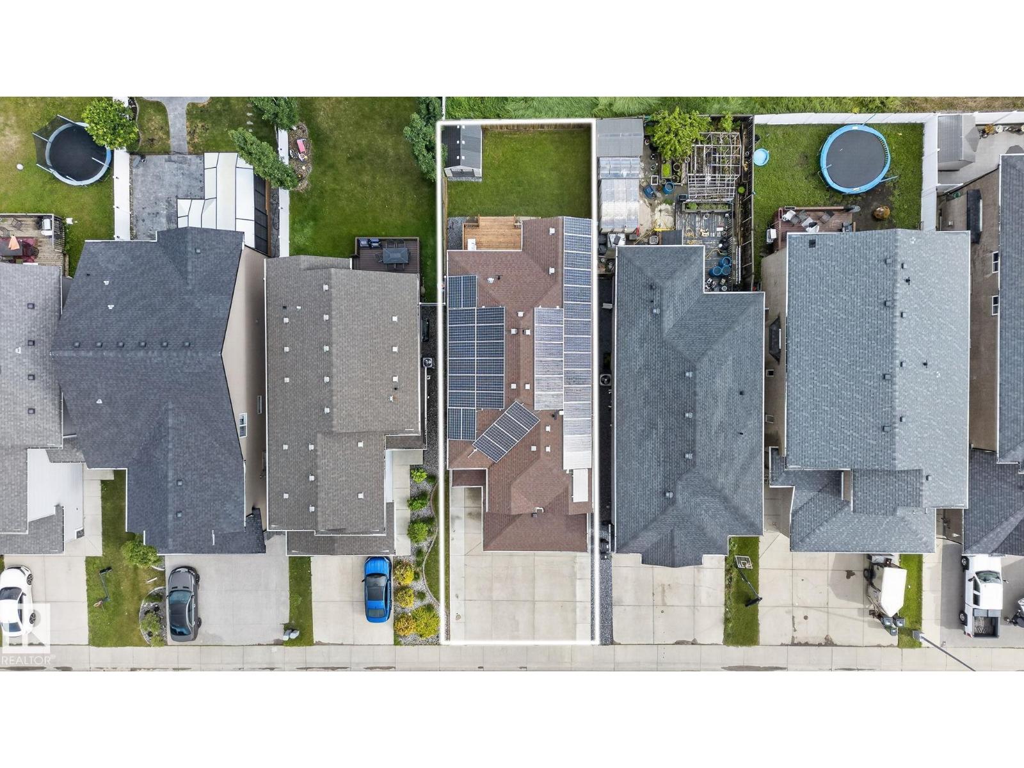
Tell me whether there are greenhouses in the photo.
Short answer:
Yes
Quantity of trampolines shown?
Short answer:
2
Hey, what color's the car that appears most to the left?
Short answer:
white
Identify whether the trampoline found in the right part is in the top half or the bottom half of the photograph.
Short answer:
top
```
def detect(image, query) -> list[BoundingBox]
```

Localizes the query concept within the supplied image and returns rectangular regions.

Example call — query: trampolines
[815,117,899,195]
[28,110,114,191]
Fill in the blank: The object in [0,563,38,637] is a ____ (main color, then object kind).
white car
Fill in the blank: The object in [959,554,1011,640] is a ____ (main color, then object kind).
white truck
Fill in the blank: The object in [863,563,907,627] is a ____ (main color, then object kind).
white trailer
